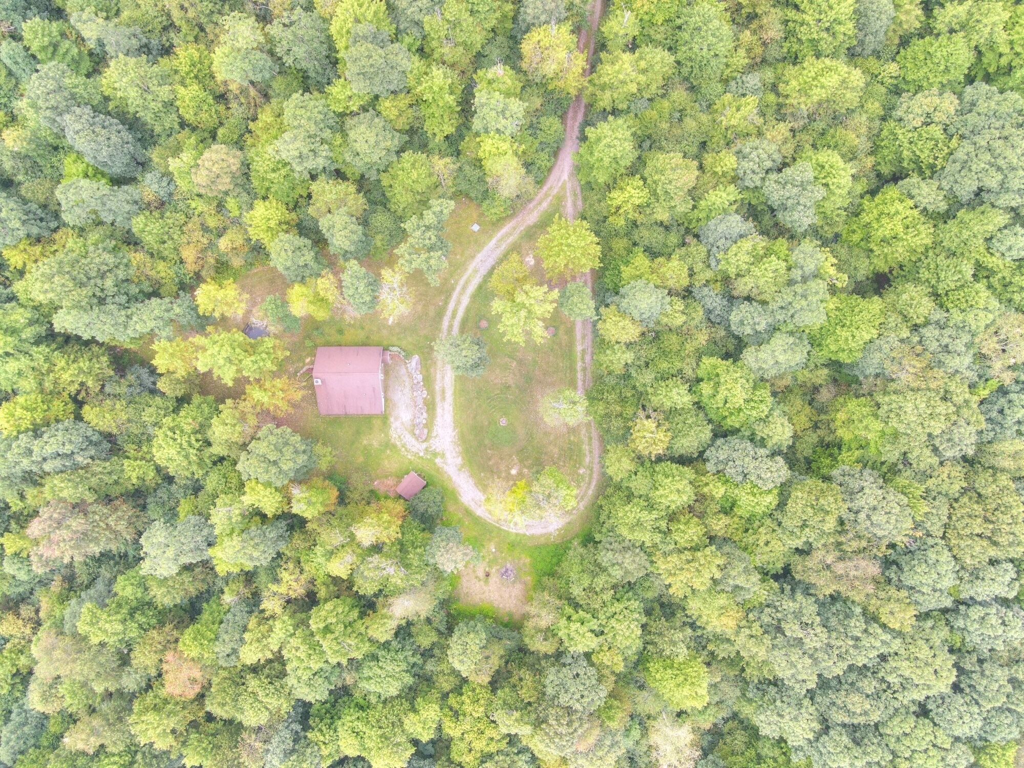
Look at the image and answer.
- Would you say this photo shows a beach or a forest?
forest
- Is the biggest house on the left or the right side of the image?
left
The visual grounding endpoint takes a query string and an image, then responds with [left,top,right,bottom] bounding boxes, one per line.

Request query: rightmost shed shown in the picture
[396,469,427,498]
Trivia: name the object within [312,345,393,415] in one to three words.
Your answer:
house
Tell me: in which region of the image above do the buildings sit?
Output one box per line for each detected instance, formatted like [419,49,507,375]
[396,469,427,498]
[312,345,393,415]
